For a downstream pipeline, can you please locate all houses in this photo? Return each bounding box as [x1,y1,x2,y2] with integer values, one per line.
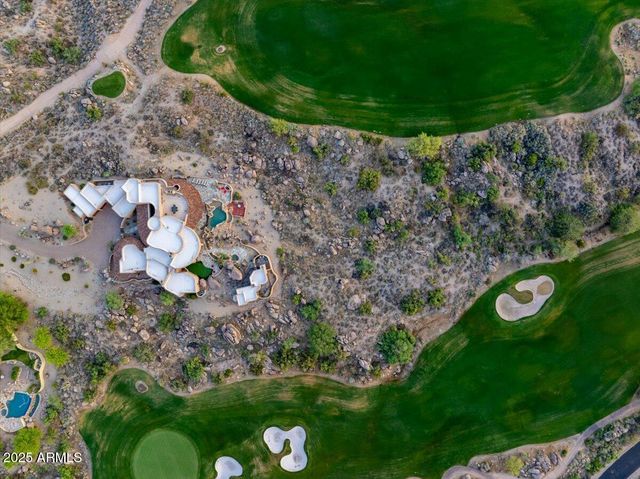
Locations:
[64,178,206,297]
[233,265,269,305]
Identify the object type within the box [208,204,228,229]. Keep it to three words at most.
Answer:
swimming pool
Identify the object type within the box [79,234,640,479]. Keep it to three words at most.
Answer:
golf course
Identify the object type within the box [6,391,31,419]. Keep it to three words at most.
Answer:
swimming pool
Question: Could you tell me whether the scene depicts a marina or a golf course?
golf course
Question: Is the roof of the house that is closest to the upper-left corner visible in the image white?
Yes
